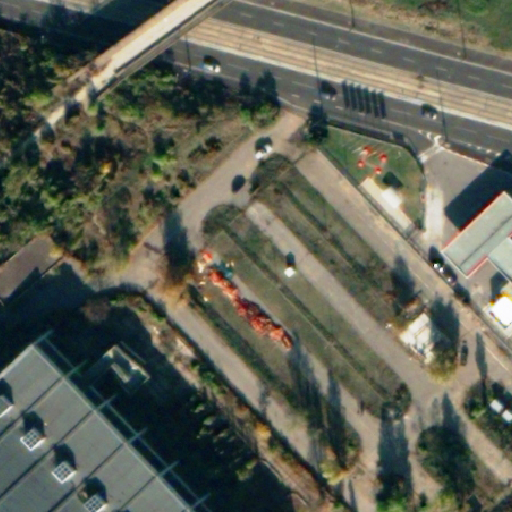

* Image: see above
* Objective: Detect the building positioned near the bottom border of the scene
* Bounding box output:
[0,327,232,512]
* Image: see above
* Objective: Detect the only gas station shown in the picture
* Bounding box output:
[442,192,512,282]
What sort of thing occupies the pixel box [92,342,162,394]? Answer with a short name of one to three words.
house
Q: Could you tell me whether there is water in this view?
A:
No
